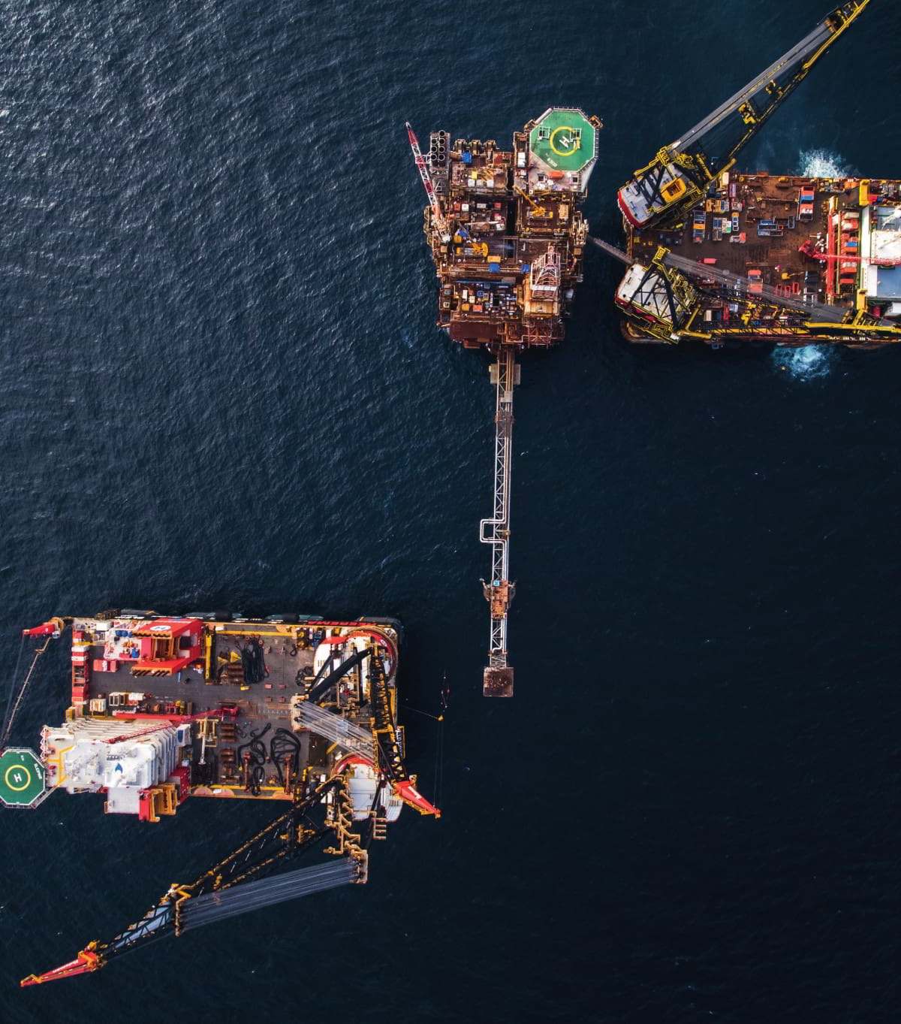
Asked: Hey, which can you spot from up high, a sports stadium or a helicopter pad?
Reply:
helicopter pad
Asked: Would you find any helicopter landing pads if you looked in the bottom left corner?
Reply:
Yes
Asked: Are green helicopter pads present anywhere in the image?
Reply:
Yes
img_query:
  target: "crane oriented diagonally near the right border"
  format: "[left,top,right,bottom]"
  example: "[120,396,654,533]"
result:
[615,0,871,235]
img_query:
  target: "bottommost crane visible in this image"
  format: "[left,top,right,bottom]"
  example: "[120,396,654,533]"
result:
[19,741,402,987]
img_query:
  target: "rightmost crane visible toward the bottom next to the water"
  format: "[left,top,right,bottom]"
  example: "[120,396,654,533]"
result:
[293,628,442,817]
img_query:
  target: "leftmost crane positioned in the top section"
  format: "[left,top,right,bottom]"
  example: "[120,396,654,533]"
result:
[406,121,450,249]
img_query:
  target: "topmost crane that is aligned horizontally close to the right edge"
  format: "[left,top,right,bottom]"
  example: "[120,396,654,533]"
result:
[796,234,901,271]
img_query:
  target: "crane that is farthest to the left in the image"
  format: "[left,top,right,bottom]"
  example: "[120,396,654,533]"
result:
[1,613,95,741]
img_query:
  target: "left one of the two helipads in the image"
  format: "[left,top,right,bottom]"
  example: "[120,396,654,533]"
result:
[0,746,62,808]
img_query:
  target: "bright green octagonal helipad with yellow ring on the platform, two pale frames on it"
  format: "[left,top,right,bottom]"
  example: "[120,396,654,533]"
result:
[526,107,599,176]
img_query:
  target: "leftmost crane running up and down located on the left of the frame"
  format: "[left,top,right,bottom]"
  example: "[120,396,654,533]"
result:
[205,626,219,683]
